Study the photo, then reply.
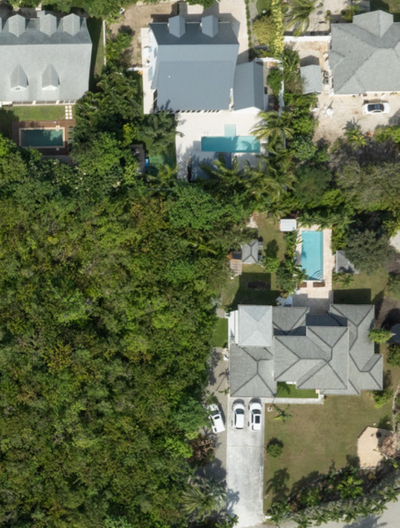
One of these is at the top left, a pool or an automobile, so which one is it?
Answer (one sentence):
There is a pool at the top left.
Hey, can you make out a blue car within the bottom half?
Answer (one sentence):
No, no blue car is visible within the bottom half.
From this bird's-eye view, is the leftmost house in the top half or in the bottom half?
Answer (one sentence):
The top half of the photo is where the leftmost house is.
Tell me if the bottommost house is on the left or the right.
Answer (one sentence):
The bottommost house is on the right side of the image.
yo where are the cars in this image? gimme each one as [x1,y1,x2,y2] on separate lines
[230,402,246,428]
[207,404,226,432]
[361,102,391,116]
[247,402,263,429]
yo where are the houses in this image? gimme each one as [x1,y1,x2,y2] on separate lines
[321,9,400,99]
[0,11,93,111]
[222,305,384,397]
[146,15,264,118]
